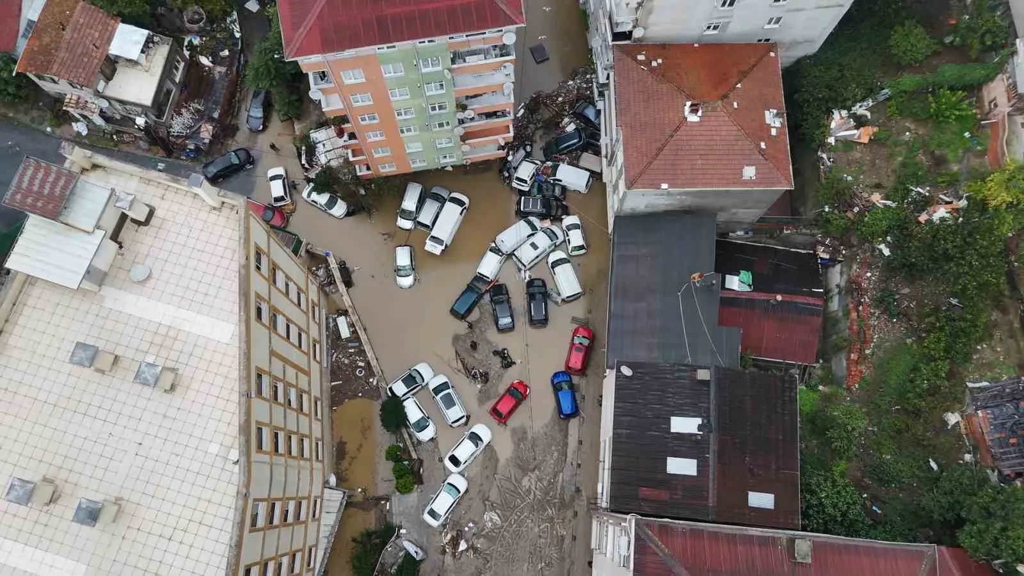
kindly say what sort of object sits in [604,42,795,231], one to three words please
house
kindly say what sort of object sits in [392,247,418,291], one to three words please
car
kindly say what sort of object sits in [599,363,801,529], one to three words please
building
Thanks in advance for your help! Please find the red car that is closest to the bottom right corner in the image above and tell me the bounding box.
[565,327,594,378]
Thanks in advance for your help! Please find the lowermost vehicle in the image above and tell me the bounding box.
[419,472,472,532]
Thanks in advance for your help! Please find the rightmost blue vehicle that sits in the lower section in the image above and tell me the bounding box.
[550,372,579,421]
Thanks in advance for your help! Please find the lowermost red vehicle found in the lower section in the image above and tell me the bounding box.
[486,379,532,429]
